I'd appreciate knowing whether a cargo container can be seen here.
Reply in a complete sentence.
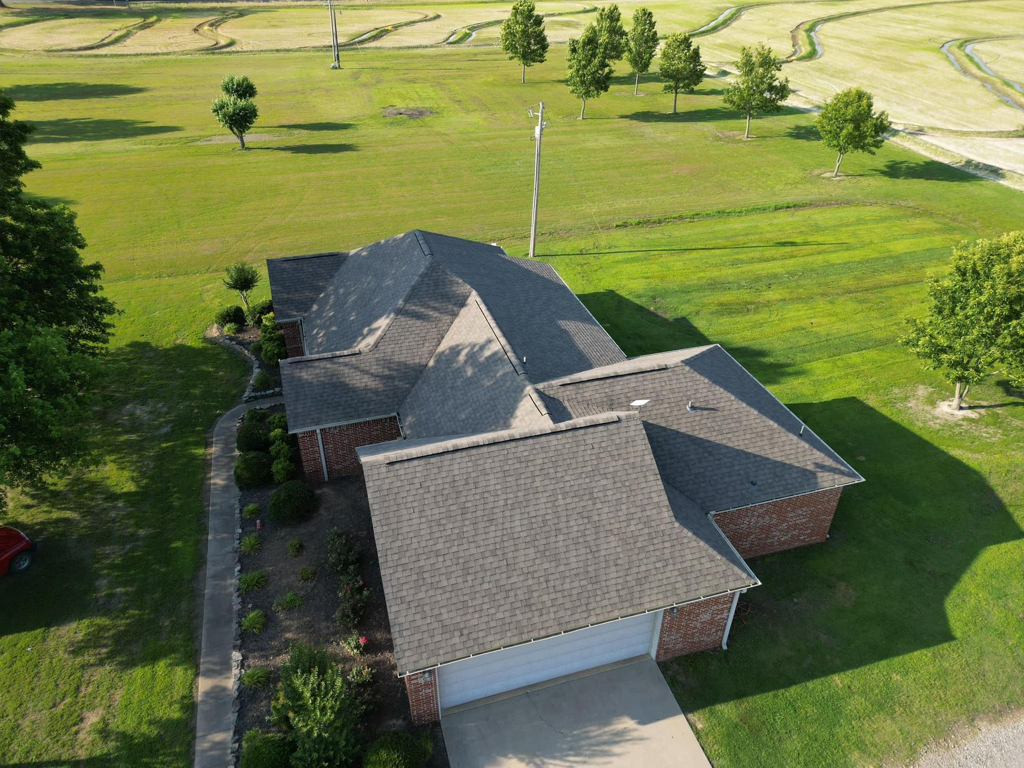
No, there's no cargo container here.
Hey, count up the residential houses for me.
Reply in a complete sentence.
The picture shows just 1 residential house.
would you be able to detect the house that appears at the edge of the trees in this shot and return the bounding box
[267,233,868,725]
